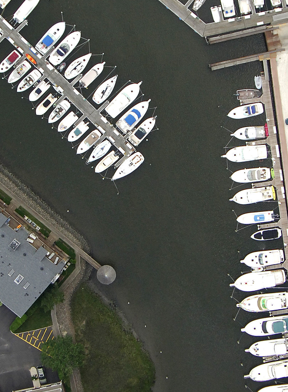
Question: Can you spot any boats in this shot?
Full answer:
Yes, this view includes a boat.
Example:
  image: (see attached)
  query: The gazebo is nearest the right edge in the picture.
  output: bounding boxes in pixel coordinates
[97,265,117,285]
